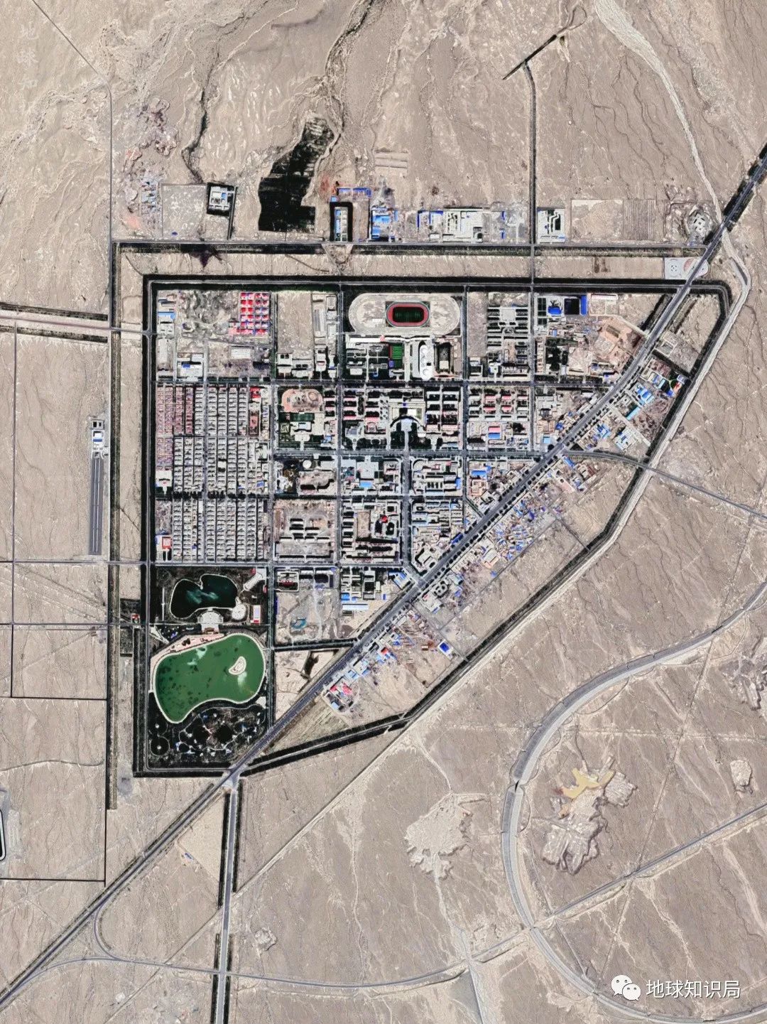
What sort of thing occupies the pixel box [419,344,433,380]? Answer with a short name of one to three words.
building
